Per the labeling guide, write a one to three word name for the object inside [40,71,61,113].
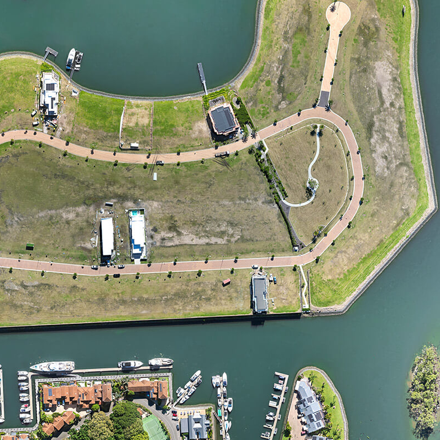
house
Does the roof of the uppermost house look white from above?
Yes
